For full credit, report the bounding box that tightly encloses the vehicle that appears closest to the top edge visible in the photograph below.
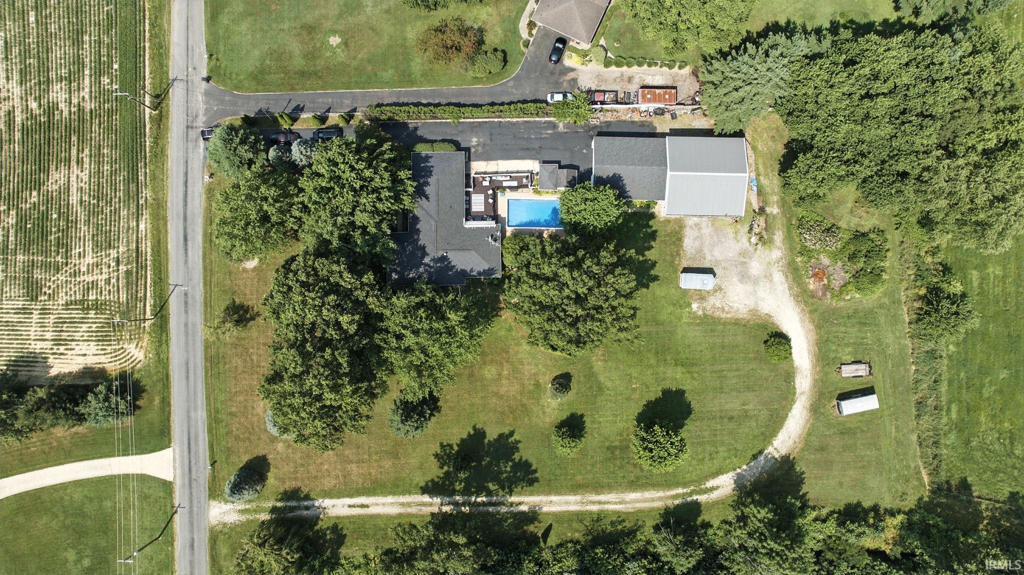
[549,36,566,66]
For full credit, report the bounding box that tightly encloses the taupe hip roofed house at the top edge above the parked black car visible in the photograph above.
[531,0,609,46]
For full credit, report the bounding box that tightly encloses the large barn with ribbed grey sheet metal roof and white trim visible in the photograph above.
[663,136,750,217]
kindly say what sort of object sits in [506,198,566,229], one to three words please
swimming pool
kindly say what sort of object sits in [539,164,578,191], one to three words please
shed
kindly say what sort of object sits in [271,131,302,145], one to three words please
car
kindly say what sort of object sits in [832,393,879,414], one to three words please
trailer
